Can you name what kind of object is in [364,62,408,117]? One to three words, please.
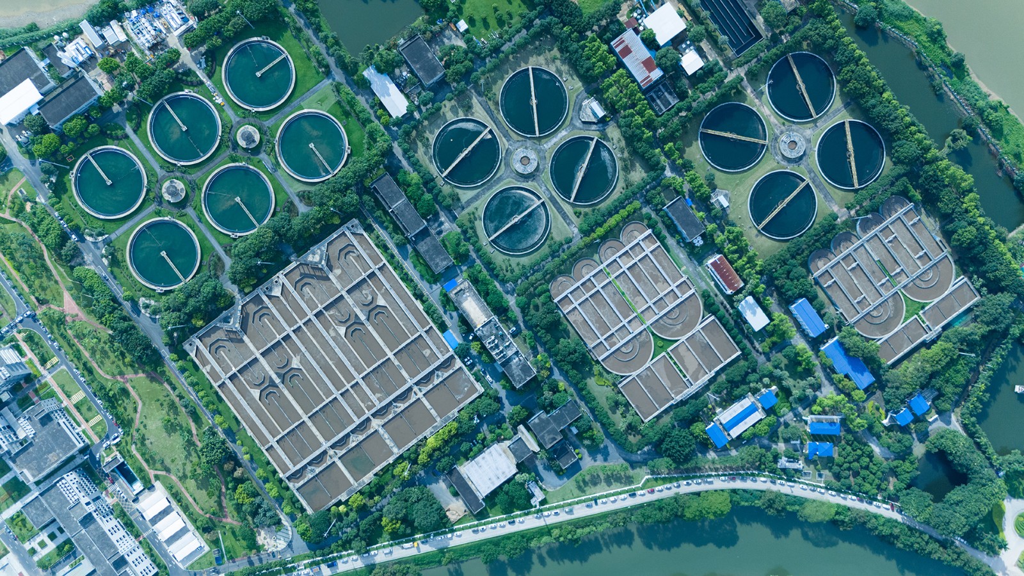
shed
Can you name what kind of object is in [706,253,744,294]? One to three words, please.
house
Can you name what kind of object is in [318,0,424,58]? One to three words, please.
pond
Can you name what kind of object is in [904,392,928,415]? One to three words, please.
building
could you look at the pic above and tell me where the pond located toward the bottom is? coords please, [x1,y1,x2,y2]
[911,447,971,507]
